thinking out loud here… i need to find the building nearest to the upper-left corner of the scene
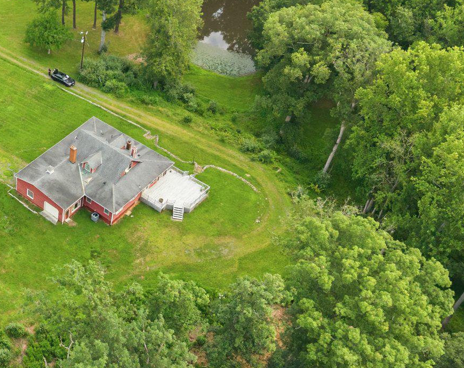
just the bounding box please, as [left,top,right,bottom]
[11,116,175,228]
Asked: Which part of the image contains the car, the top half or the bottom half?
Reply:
top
